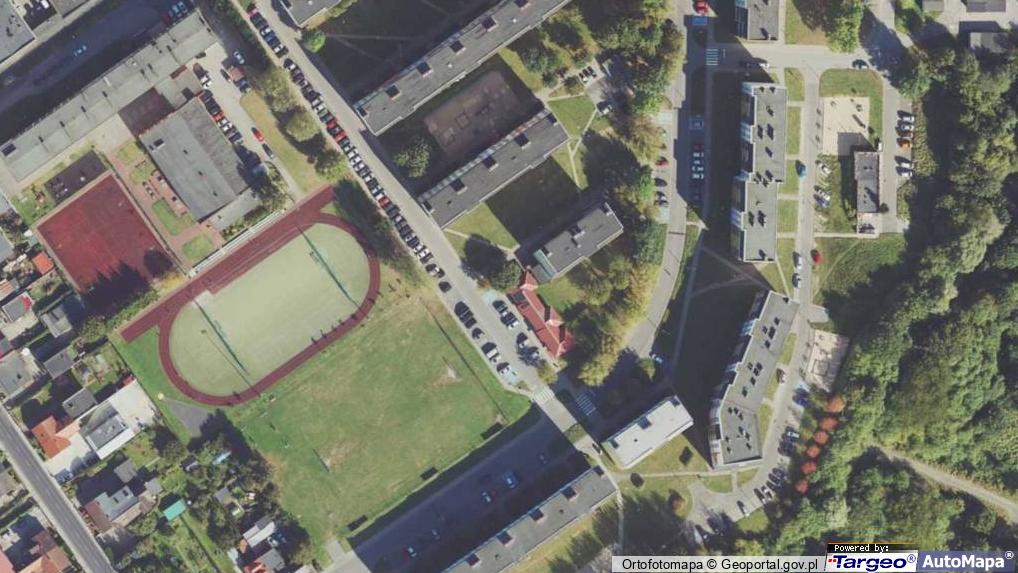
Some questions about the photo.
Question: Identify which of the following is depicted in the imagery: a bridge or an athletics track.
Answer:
athletics track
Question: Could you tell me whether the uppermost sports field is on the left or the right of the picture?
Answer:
left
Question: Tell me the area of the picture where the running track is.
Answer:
left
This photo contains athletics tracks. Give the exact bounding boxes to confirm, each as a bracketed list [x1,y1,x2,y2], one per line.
[121,183,380,405]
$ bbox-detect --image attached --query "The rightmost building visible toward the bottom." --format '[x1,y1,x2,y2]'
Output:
[706,287,799,465]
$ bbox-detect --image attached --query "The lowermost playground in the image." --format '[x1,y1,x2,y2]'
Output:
[806,331,848,390]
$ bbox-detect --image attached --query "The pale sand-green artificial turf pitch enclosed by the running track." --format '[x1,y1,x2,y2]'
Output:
[169,227,370,395]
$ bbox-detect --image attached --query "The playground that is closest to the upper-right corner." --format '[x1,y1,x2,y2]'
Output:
[822,97,870,156]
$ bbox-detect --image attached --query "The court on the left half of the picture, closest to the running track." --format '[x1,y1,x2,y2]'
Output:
[37,175,168,308]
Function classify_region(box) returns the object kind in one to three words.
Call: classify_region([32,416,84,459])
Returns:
house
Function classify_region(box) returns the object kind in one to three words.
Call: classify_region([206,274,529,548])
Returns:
sports field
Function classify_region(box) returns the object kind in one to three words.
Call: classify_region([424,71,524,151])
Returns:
sports court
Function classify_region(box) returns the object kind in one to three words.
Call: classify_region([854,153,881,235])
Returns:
building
